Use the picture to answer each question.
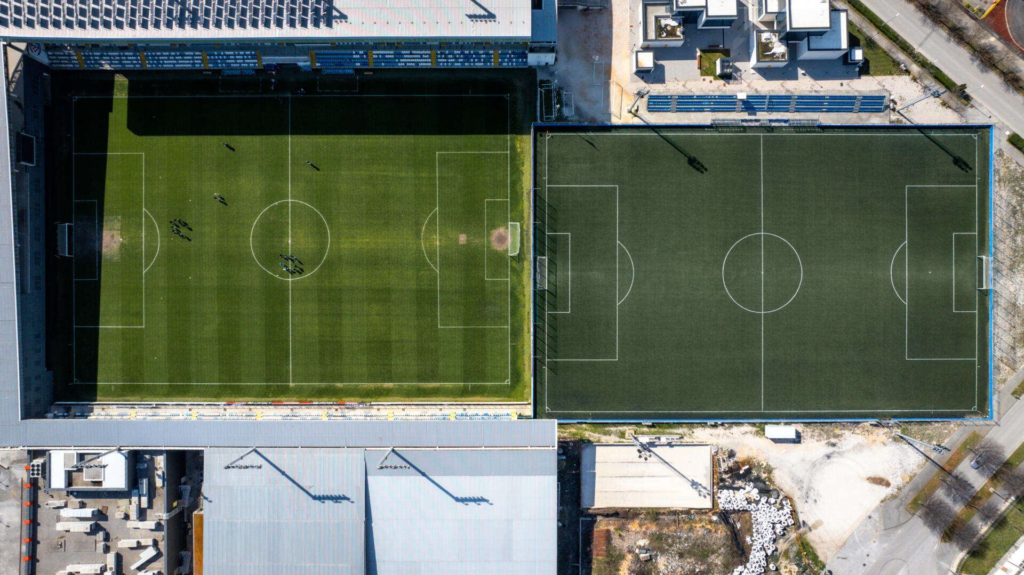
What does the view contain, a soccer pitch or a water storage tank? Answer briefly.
soccer pitch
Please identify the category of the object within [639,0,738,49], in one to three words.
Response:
building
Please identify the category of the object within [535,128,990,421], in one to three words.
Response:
soccer field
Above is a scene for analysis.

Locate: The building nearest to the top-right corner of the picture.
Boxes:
[750,0,864,73]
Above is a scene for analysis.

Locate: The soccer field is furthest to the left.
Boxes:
[45,65,532,419]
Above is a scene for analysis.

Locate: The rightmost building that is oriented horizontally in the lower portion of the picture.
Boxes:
[762,424,795,438]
